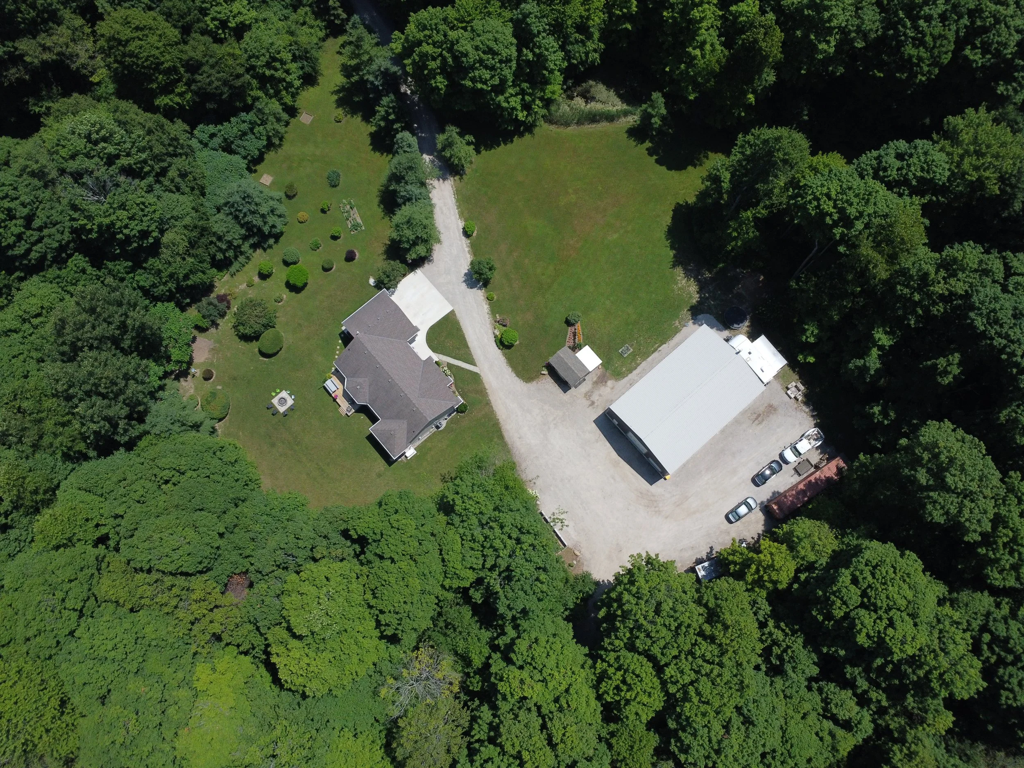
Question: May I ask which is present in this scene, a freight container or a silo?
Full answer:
Visible in the photo is a freight container.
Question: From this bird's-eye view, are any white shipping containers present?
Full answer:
No, there's no white shipping container here.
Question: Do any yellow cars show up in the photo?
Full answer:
No, the photo shows no yellow car.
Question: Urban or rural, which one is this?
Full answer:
The area shown here is rural.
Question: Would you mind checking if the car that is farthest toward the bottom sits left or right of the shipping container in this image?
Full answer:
The car that is farthest toward the bottom can be seen on the left of the shipping container.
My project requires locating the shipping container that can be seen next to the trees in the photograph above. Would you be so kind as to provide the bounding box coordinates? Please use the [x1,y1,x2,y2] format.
[766,457,850,520]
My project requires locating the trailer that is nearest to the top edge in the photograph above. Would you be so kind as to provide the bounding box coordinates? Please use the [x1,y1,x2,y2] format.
[724,335,788,384]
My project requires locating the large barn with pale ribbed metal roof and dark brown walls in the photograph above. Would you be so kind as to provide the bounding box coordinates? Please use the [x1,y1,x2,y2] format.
[605,323,767,478]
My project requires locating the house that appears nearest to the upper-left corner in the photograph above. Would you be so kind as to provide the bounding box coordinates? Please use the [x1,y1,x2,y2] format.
[334,288,463,460]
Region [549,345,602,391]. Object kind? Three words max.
shed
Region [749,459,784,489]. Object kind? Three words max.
car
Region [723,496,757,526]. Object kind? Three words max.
car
